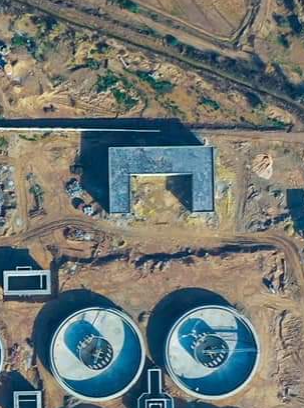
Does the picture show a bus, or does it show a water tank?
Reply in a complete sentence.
The one in the frame is a water tank.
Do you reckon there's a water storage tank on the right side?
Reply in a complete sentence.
Yes, I can see a water storage tank on the right side.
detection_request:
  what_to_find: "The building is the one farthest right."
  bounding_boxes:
[103,146,215,219]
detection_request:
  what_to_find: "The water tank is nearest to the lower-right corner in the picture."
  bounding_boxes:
[162,306,260,400]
